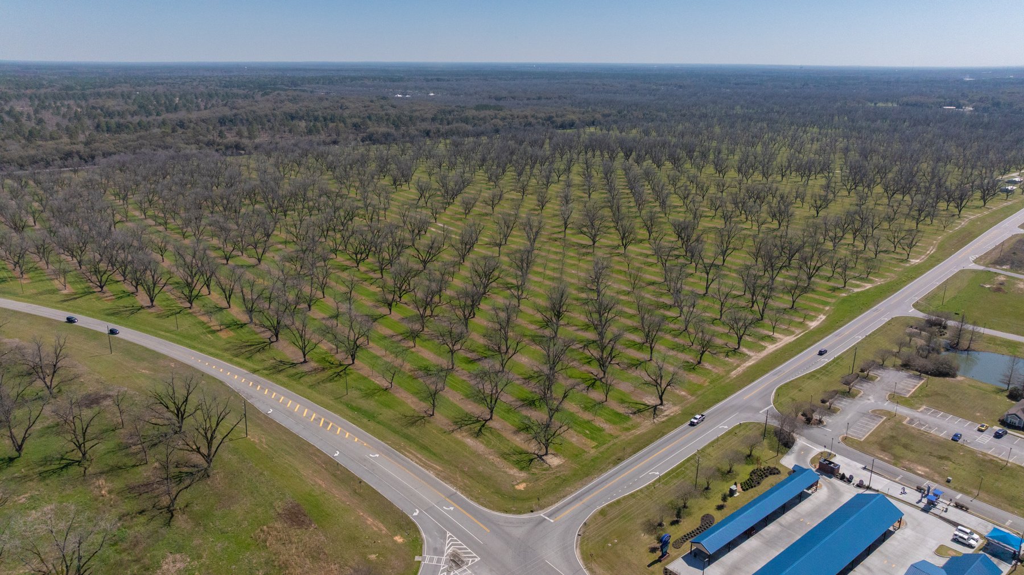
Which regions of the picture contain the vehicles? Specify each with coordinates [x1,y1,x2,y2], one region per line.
[690,413,705,424]
[818,347,828,354]
[109,328,119,333]
[995,428,1006,437]
[956,524,980,540]
[978,423,988,431]
[65,316,76,322]
[953,530,977,546]
[952,432,963,440]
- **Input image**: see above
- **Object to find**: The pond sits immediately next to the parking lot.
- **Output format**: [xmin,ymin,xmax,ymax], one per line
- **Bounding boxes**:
[942,341,1024,387]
